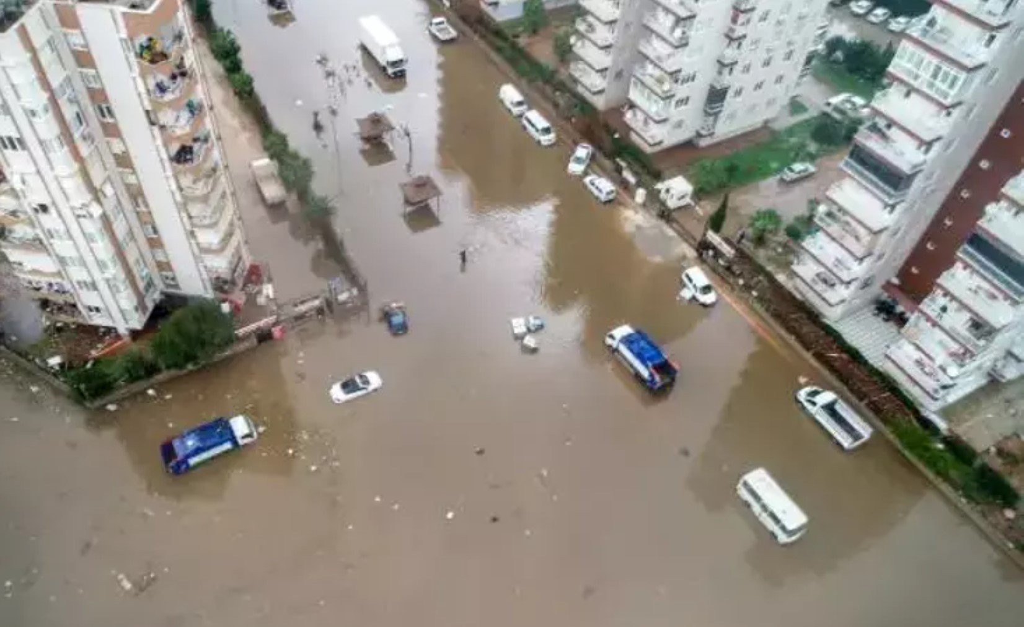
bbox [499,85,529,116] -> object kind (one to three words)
vehicle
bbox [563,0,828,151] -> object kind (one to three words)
building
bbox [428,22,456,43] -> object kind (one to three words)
truck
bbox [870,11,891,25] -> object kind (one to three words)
car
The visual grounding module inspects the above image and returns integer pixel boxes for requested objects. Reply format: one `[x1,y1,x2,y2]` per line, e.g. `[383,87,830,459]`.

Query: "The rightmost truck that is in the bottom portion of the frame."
[802,390,872,451]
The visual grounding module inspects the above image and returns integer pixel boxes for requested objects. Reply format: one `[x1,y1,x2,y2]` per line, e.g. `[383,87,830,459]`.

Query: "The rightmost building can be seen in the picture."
[782,0,1024,411]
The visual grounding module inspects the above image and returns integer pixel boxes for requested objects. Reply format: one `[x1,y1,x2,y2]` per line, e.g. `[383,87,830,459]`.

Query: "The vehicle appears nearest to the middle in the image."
[382,306,410,337]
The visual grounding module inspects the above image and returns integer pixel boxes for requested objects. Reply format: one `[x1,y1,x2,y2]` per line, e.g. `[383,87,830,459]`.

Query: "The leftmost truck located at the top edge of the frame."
[359,20,408,76]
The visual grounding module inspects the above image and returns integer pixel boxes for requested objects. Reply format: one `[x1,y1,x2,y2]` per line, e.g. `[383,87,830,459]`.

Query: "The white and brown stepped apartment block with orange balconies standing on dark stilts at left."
[0,0,263,353]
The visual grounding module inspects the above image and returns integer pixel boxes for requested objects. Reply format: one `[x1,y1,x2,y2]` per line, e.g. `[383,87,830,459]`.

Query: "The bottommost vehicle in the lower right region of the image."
[736,472,804,544]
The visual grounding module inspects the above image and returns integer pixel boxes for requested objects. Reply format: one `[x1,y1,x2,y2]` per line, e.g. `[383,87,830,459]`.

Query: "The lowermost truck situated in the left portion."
[157,416,253,481]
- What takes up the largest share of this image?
water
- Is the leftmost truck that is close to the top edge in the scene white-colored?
Yes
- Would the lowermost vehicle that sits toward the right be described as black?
No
